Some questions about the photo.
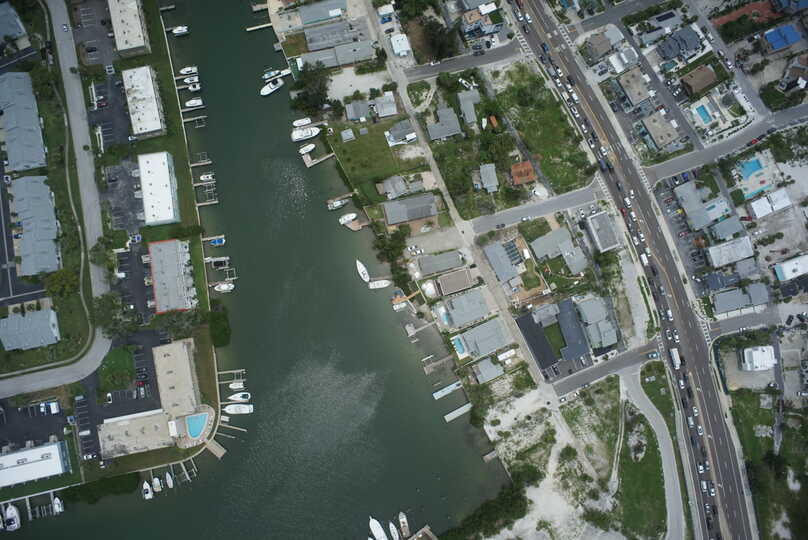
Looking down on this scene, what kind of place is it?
residential area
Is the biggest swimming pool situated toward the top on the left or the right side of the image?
right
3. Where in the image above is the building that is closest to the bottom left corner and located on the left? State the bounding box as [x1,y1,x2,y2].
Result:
[0,432,74,487]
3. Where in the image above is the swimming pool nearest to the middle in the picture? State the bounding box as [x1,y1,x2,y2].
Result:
[436,304,453,329]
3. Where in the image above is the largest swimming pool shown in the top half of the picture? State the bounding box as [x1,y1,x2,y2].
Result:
[735,150,782,200]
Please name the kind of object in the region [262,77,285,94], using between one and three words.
boat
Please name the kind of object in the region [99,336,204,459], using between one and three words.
building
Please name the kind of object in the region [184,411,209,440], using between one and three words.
swimming pool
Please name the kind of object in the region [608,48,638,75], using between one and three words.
house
